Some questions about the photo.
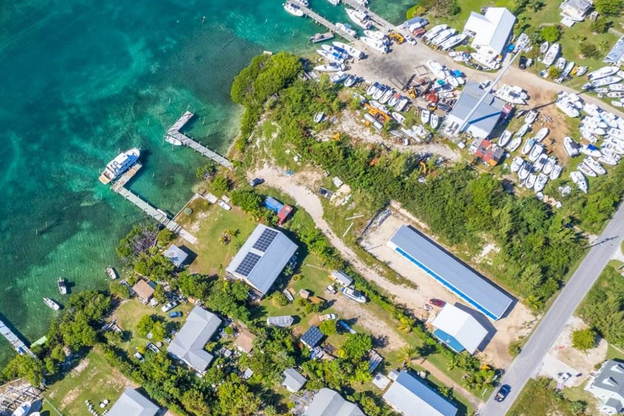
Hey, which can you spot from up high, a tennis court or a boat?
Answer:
boat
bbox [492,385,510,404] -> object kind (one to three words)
car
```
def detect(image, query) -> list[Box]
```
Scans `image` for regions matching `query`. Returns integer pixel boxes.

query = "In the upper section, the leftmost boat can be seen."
[102,147,141,184]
